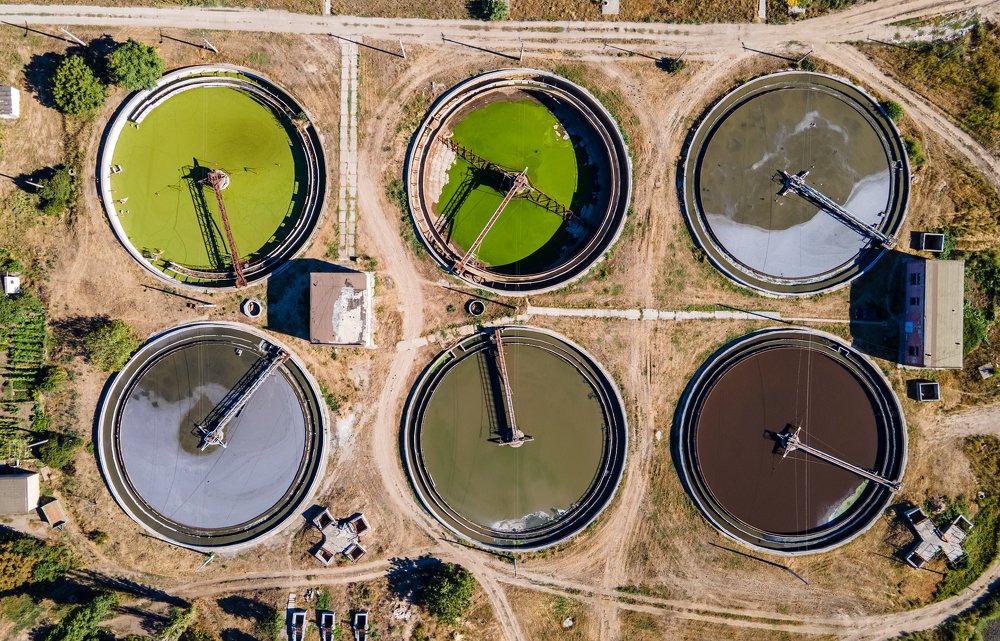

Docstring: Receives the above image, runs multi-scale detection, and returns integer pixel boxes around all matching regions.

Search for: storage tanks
[407,67,632,292]
[404,327,628,552]
[683,70,909,296]
[680,329,906,555]
[100,323,327,550]
[101,65,327,291]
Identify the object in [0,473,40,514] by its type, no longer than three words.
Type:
house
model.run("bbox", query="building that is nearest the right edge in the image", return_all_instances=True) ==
[905,260,964,368]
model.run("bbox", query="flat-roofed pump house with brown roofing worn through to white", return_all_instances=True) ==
[310,272,372,346]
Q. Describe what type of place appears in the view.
industrial area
